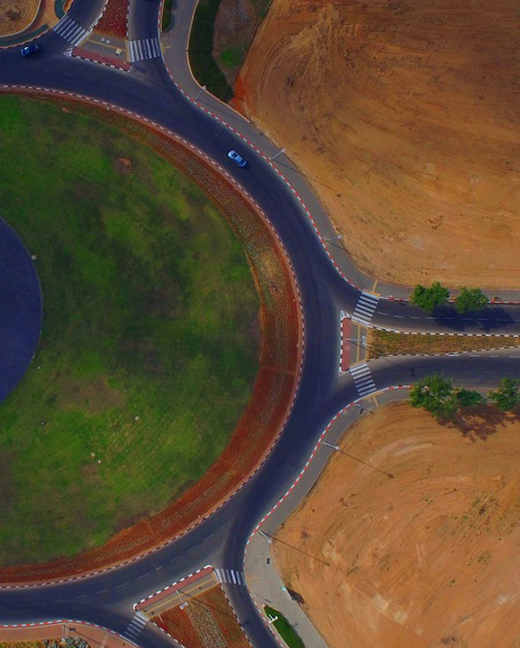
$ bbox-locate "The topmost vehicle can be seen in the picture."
[21,43,40,55]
